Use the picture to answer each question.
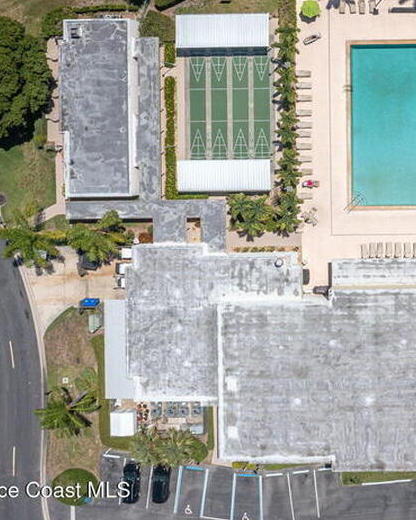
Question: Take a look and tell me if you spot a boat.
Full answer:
No, there appears to be no boat in this shot.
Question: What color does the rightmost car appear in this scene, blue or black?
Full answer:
The rightmost car looks black in the image.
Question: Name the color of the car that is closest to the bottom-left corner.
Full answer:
The color of the car that is closest to the bottom-left corner is black.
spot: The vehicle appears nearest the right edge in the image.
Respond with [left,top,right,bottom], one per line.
[149,465,171,505]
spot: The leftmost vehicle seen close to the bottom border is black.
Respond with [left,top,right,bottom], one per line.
[120,464,142,505]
